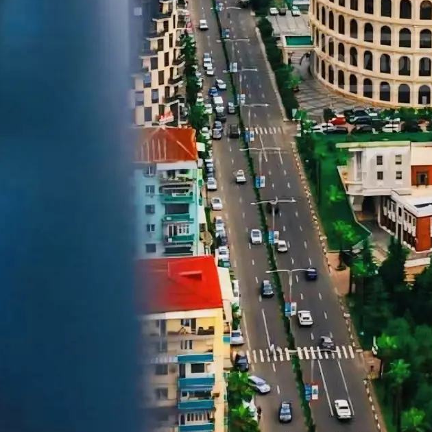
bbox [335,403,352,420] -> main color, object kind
white car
